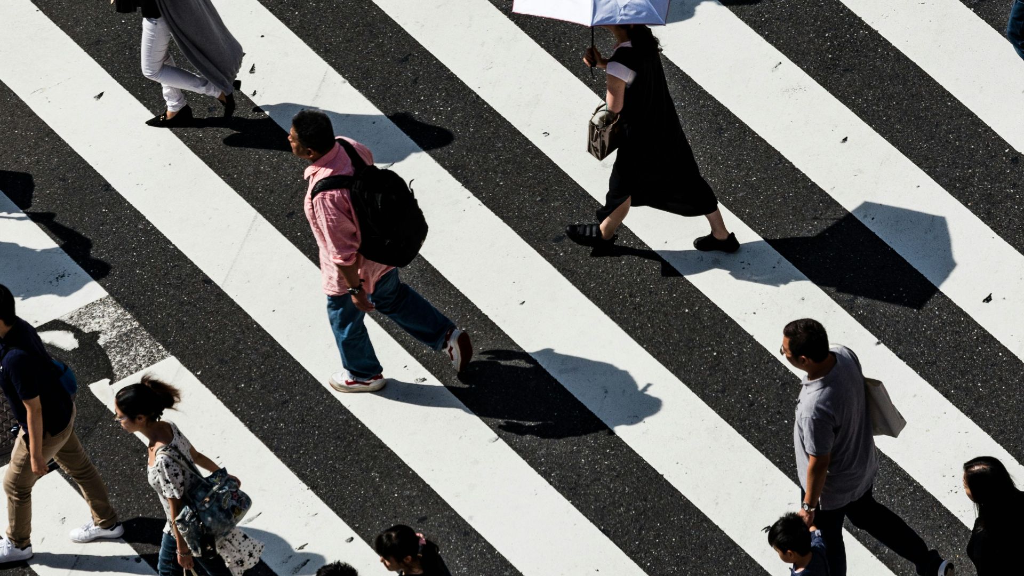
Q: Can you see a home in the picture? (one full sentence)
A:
No, I can't see a single home in this photo.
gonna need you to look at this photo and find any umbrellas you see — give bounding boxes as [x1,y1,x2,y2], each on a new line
[510,0,666,82]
